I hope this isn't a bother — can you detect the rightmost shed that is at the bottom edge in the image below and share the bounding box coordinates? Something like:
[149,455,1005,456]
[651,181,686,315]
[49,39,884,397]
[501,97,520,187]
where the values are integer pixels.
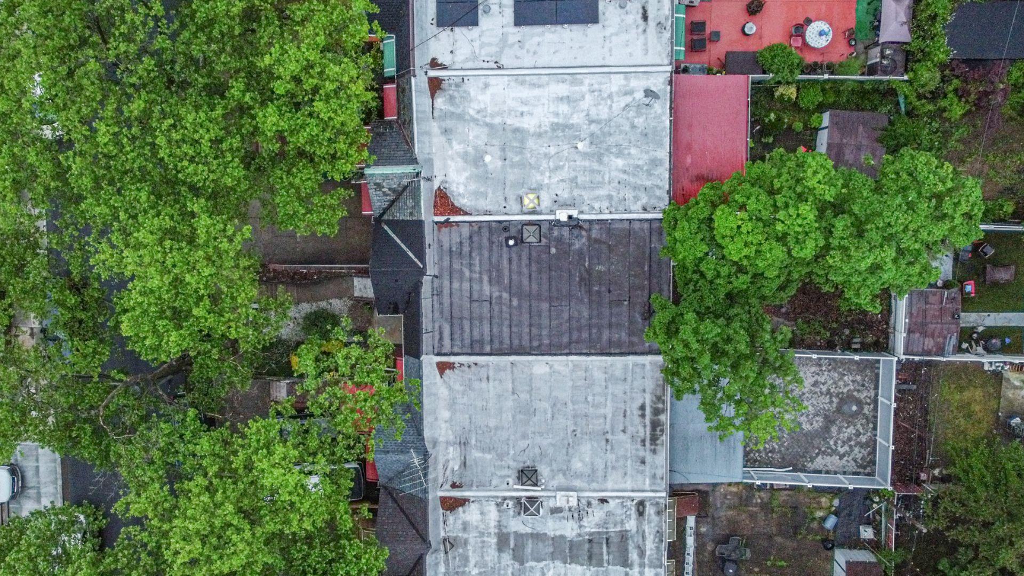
[828,540,890,576]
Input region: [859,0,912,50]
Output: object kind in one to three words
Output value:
gazebo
